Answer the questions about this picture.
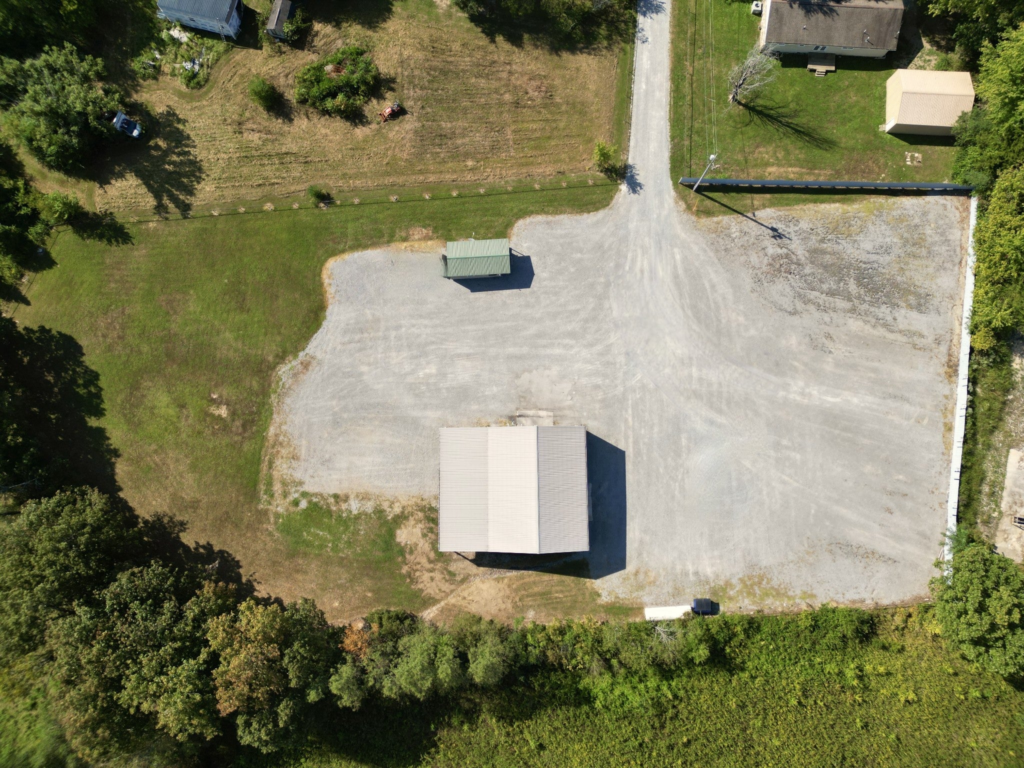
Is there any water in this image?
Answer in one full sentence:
No, there's no water in this view.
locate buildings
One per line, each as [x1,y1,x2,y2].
[446,238,510,278]
[760,0,904,58]
[269,0,300,39]
[885,69,974,136]
[157,0,241,35]
[437,426,589,555]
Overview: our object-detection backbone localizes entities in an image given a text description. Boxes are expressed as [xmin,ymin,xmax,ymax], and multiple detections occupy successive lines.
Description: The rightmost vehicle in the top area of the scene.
[376,99,399,123]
